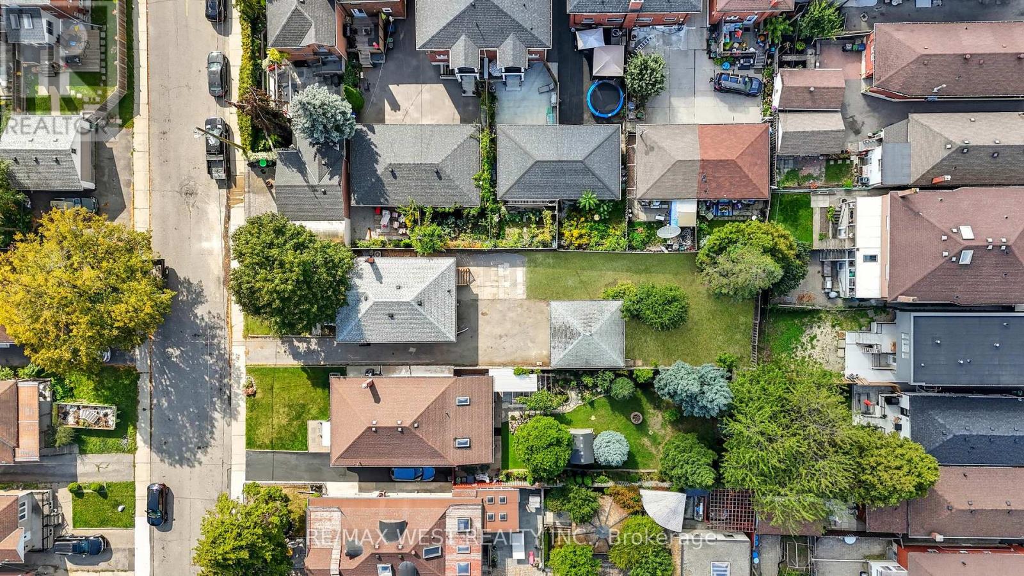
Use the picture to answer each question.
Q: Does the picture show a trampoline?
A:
Yes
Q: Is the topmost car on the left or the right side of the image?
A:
left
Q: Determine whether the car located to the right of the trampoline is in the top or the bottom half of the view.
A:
top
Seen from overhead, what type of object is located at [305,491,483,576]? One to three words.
house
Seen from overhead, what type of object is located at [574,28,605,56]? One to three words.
gazebo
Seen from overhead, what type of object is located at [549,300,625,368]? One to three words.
building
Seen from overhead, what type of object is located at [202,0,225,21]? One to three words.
car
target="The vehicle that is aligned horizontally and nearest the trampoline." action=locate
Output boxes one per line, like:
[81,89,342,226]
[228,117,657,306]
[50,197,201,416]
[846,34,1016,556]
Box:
[712,74,762,99]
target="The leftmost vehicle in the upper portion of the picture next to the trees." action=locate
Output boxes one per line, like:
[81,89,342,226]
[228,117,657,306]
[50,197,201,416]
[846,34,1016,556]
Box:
[45,193,99,215]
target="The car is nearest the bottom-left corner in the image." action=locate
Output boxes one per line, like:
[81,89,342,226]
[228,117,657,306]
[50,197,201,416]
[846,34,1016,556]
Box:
[55,529,109,554]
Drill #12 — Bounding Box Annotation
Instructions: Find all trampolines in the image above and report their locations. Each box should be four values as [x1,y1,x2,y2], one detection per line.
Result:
[587,78,624,118]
